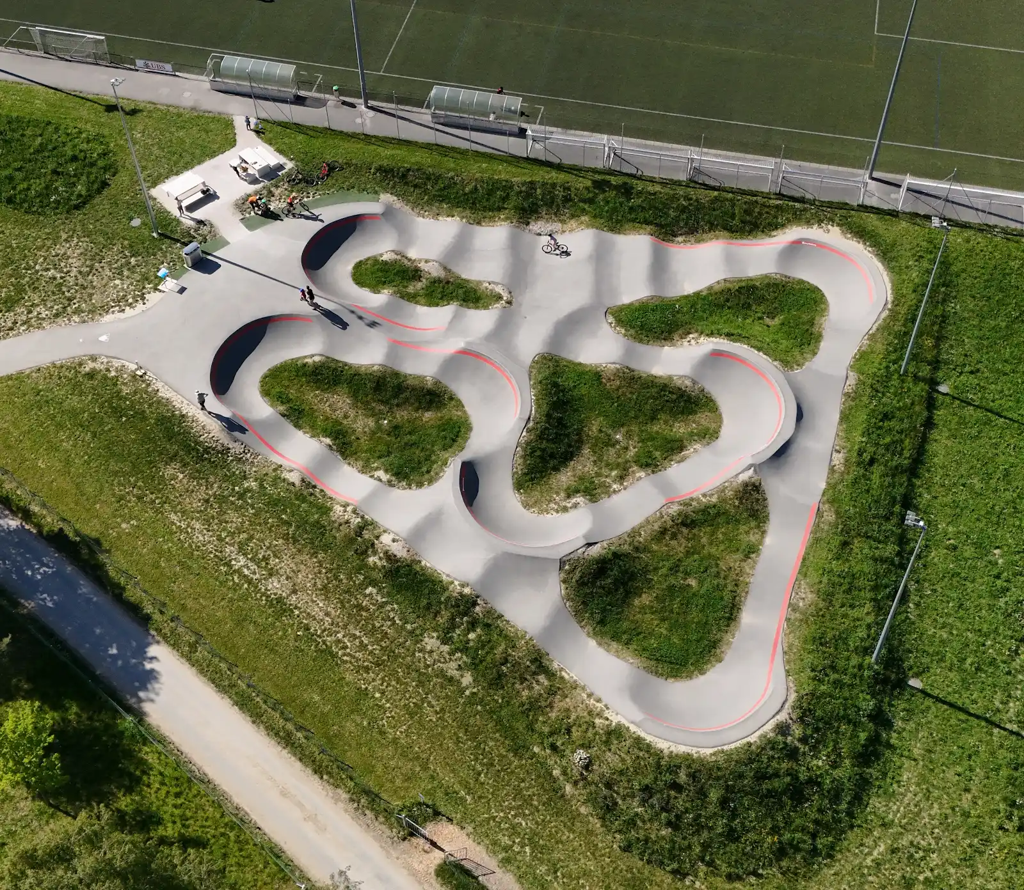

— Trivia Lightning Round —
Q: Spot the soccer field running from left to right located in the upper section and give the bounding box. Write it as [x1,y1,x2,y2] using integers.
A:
[0,0,1024,193]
